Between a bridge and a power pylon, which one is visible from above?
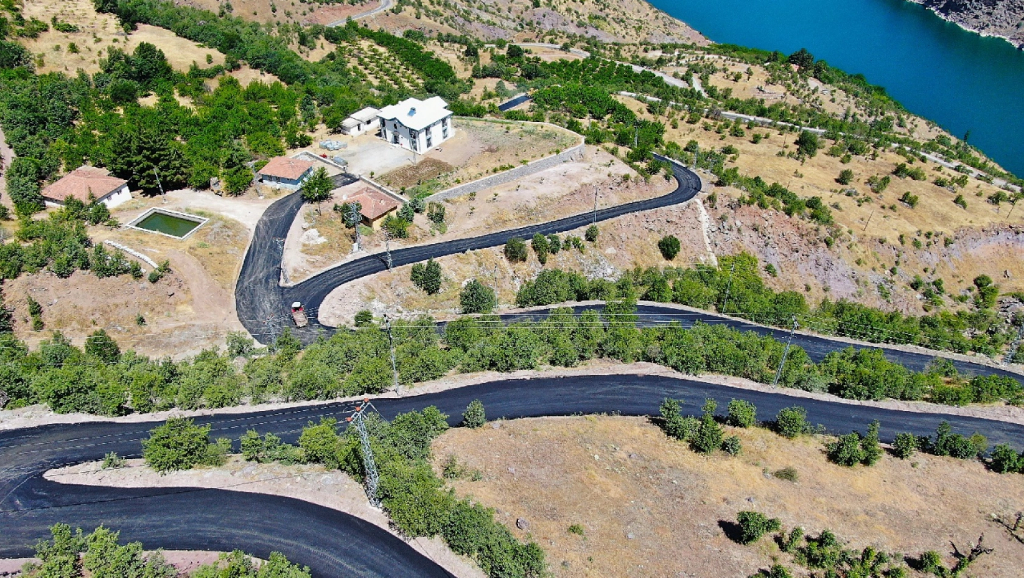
power pylon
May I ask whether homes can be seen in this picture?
Yes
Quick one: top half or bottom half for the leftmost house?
top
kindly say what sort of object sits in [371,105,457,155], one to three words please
house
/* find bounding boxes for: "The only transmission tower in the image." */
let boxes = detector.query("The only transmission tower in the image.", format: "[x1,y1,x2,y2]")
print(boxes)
[340,401,382,514]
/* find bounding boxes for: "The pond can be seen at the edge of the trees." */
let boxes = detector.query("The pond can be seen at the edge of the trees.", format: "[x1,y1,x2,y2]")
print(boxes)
[127,207,208,240]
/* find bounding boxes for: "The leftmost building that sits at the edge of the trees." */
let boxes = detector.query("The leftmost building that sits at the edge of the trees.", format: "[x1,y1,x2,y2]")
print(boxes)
[38,172,141,212]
